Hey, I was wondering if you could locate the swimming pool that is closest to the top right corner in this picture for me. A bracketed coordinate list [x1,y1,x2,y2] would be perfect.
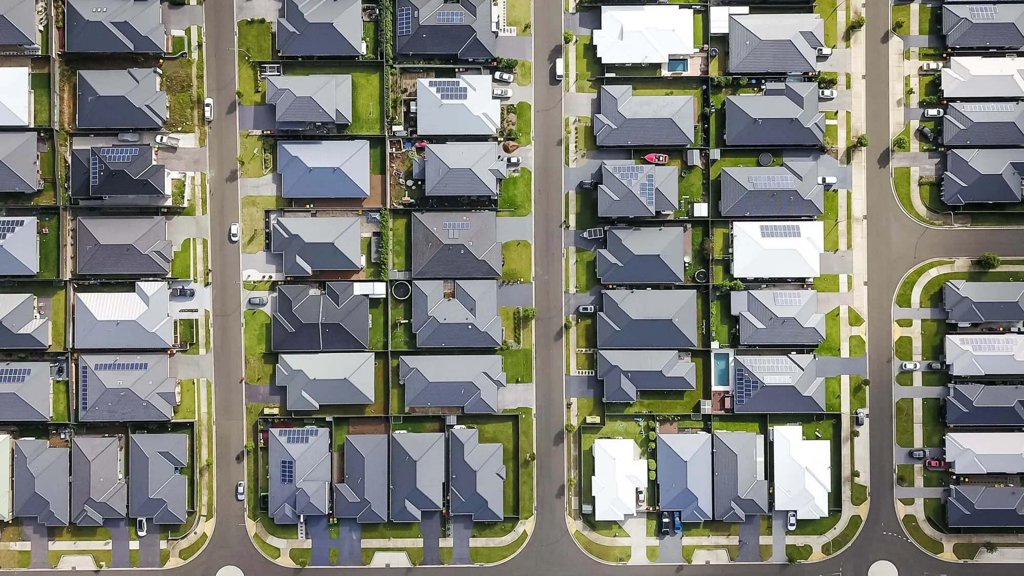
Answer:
[667,58,689,72]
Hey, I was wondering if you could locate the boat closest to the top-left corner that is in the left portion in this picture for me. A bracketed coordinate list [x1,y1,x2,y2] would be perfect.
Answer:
[260,65,280,77]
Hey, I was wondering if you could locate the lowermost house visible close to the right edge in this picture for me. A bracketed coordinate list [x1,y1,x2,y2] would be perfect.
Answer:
[943,484,1024,527]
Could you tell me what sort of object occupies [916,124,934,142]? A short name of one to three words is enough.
car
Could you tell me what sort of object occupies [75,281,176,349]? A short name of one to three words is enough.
house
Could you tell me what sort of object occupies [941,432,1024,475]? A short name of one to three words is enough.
house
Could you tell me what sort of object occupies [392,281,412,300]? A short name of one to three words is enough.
trampoline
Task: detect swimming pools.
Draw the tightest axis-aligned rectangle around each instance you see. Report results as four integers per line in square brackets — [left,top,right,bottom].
[713,353,730,387]
[667,58,689,72]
